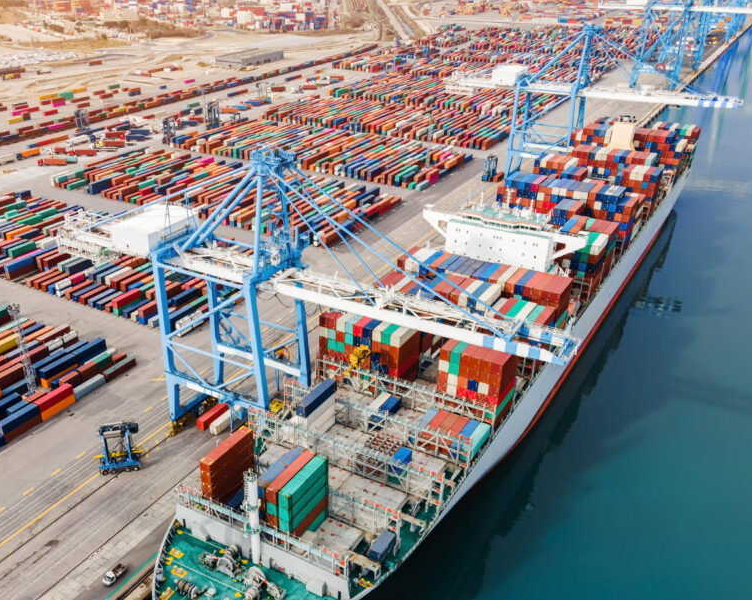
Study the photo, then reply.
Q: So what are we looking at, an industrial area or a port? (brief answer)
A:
port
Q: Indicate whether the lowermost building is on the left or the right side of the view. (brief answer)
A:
left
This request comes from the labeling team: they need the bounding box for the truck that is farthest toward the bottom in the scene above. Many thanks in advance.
[98,570,125,593]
